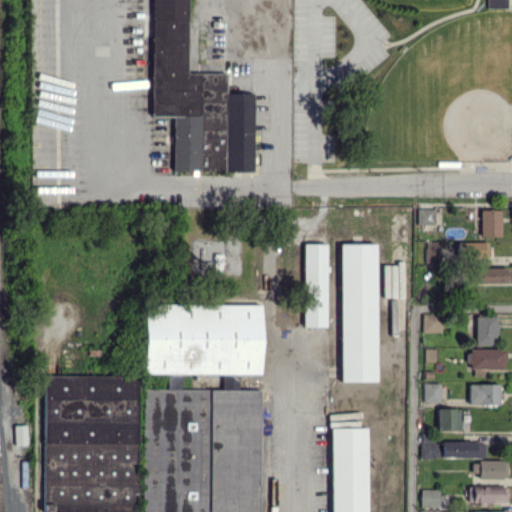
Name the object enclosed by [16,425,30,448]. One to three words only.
shed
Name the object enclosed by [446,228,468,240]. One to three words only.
swimming pool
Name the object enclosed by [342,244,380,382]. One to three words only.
building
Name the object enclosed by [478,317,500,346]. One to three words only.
house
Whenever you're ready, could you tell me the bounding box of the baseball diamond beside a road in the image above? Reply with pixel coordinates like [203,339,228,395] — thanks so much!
[366,12,512,162]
